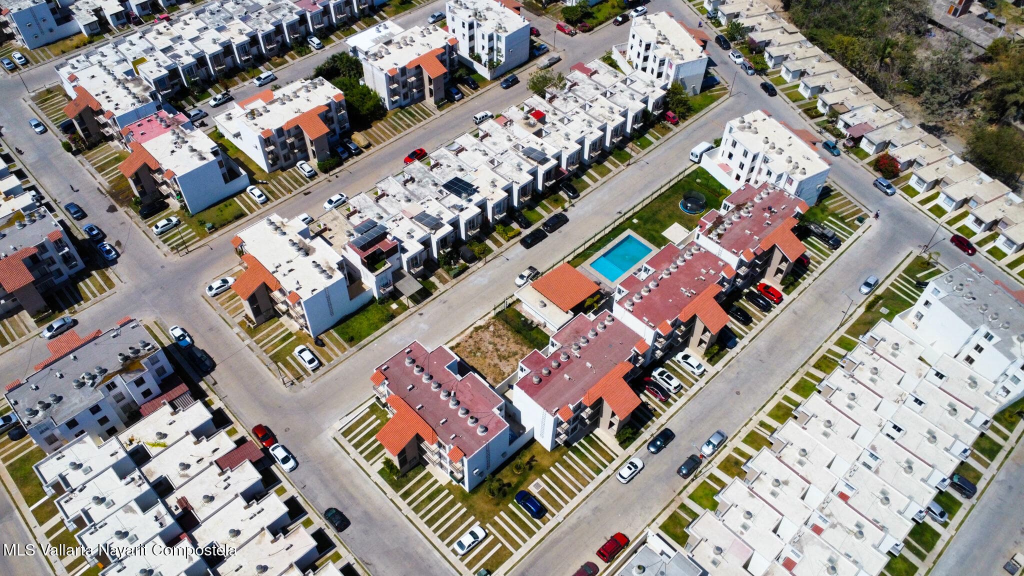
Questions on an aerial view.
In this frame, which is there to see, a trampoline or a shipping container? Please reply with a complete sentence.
I can see a trampoline in this picture.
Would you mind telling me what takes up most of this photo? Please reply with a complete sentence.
For the most part, this view shows buildings.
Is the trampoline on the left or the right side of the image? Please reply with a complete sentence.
You can find the trampoline on the right side of the picture.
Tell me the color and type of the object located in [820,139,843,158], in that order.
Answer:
blue car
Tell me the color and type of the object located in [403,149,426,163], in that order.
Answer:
red car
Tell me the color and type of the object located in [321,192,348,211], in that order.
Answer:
white car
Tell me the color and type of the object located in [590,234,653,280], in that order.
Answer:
blue swimming pool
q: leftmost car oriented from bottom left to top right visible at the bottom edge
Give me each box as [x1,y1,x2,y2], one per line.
[452,523,489,558]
